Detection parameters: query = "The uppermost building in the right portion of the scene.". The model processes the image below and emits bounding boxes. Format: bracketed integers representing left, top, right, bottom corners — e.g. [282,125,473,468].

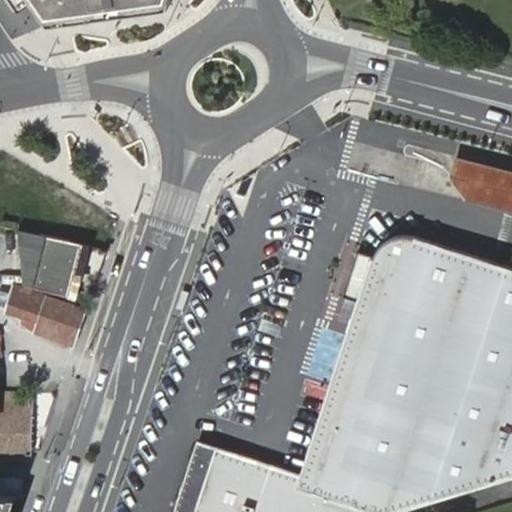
[450,158,512,214]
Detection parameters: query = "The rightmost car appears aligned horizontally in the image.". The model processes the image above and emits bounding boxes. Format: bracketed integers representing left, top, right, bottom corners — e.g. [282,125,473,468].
[486,109,511,123]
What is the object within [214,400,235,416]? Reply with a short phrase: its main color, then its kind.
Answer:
white car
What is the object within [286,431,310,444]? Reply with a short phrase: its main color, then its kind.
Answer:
white vehicle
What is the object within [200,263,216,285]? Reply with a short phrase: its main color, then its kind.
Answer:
white car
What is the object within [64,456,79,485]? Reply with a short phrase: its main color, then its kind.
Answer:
white vehicle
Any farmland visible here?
No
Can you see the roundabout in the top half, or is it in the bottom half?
top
